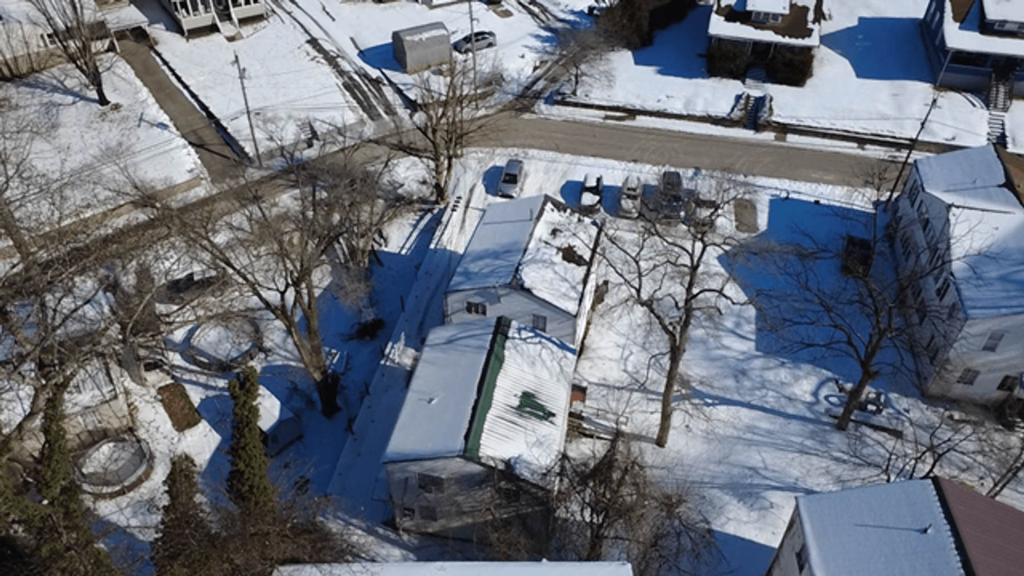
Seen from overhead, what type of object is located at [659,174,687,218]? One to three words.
car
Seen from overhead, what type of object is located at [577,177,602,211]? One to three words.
car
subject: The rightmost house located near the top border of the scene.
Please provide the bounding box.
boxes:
[925,0,1024,106]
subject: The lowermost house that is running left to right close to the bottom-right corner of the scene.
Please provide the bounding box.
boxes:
[756,467,1024,576]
